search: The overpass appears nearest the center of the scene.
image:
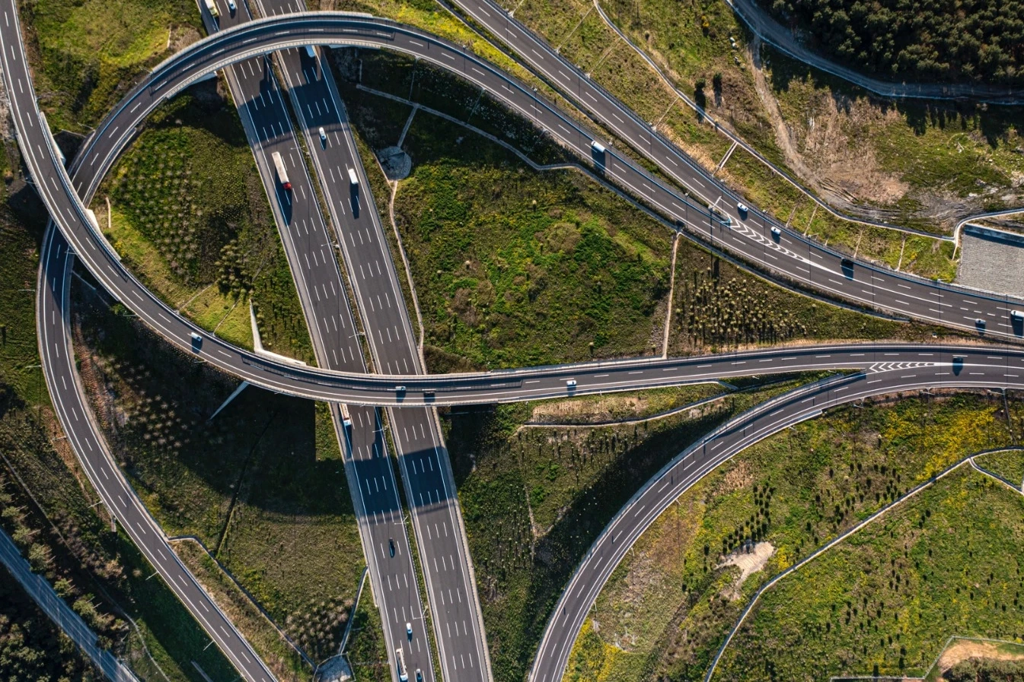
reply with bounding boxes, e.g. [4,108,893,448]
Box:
[211,300,516,419]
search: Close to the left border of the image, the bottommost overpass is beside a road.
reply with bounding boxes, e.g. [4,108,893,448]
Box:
[13,118,138,299]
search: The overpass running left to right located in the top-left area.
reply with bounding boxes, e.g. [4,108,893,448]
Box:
[146,11,383,100]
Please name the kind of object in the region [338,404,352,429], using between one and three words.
vehicle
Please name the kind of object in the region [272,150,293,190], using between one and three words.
truck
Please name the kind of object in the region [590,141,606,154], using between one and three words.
vehicle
